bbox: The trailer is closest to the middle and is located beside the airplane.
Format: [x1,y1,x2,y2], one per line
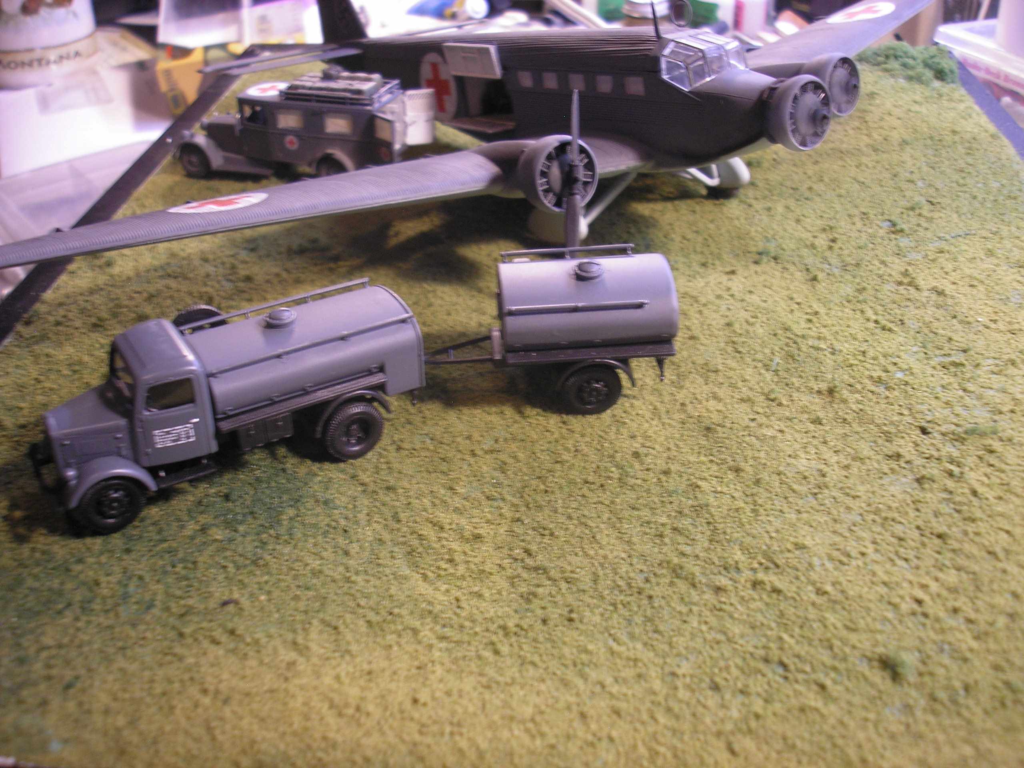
[423,245,679,414]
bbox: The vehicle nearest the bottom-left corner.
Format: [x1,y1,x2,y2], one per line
[22,278,424,531]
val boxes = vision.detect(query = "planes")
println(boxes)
[0,0,940,271]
